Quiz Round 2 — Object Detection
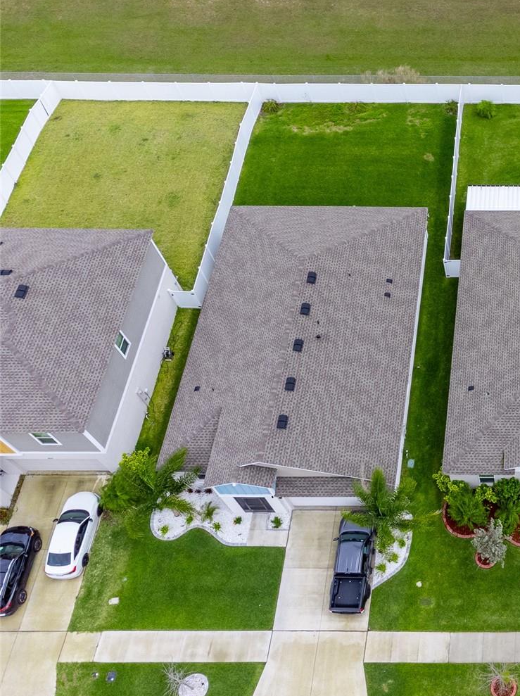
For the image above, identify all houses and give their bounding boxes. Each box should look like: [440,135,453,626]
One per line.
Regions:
[0,232,178,508]
[441,210,520,489]
[161,207,429,516]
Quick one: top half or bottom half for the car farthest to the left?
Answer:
bottom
